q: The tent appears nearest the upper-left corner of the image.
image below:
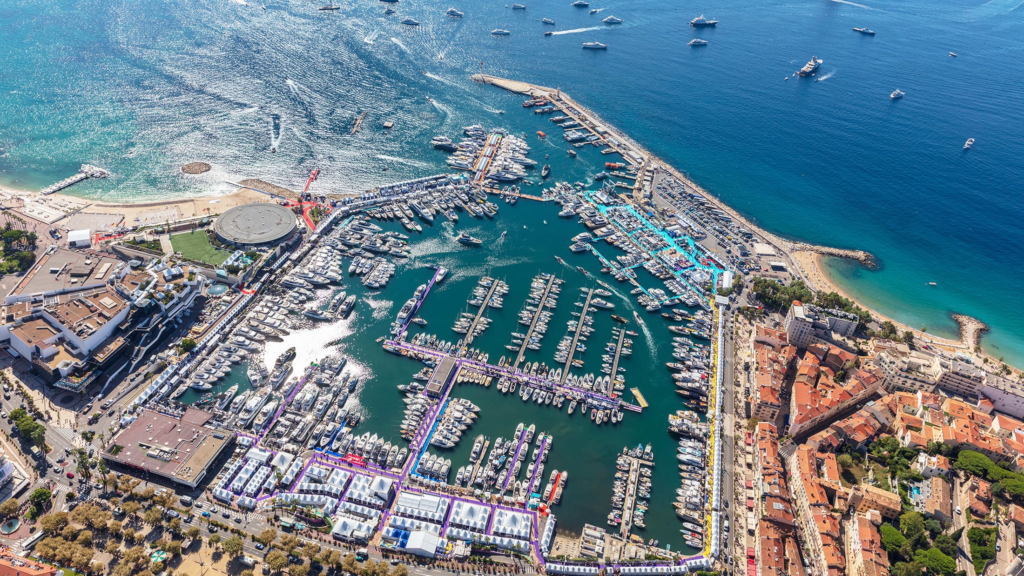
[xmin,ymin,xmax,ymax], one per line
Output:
[67,230,93,248]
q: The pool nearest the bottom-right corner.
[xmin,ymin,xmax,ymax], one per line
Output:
[908,480,927,508]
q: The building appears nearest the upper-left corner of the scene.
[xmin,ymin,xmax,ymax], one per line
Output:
[21,202,65,228]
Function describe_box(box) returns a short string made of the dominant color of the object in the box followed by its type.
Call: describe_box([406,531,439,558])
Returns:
white tent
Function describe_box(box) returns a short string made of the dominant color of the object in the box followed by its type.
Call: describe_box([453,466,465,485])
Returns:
white boat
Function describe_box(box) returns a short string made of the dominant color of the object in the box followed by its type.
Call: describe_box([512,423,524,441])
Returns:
white boat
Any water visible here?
Yes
